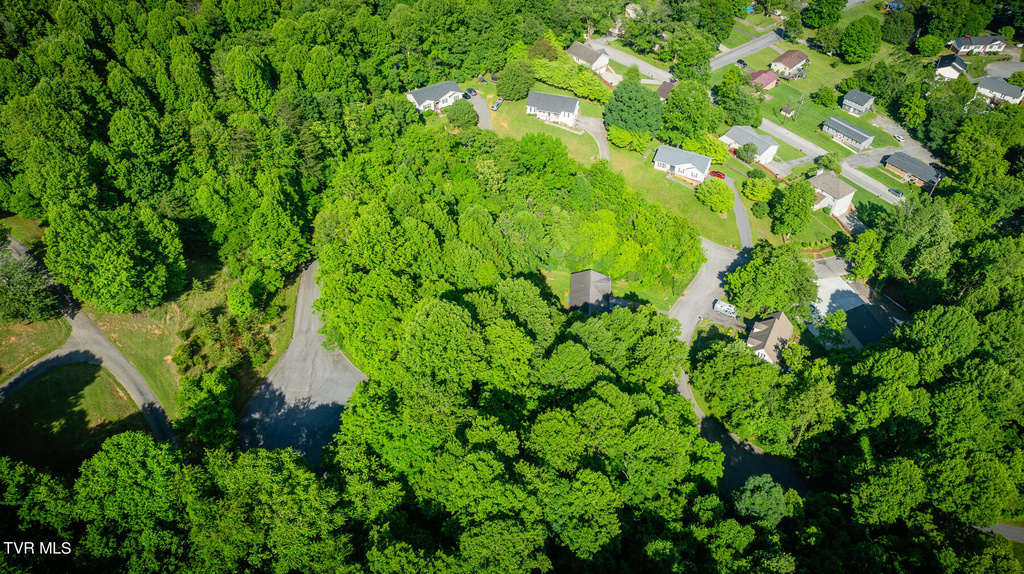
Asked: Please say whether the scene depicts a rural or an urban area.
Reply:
rural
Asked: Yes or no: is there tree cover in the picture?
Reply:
Yes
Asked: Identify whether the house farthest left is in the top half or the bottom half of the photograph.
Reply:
top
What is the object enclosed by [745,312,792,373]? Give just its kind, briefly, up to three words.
house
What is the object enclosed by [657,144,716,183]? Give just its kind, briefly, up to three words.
house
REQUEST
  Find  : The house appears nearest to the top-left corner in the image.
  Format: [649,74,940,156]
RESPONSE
[404,81,462,114]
